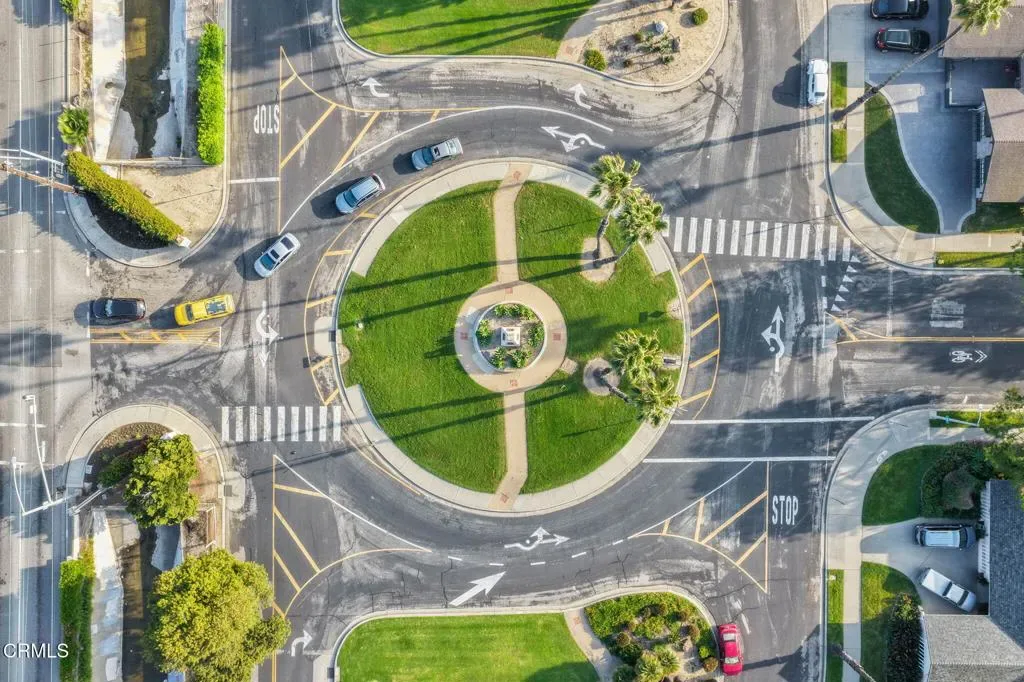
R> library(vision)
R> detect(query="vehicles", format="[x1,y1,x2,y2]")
[807,54,834,107]
[718,624,744,678]
[876,24,930,50]
[871,0,930,19]
[88,296,144,321]
[408,137,465,169]
[252,231,300,279]
[173,295,235,326]
[914,525,973,551]
[334,172,386,215]
[918,567,975,613]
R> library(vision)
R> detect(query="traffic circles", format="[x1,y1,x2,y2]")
[286,113,735,562]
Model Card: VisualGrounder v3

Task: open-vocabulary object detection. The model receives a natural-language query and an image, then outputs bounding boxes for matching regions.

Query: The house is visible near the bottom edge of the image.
[926,479,1024,682]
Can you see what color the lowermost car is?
red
